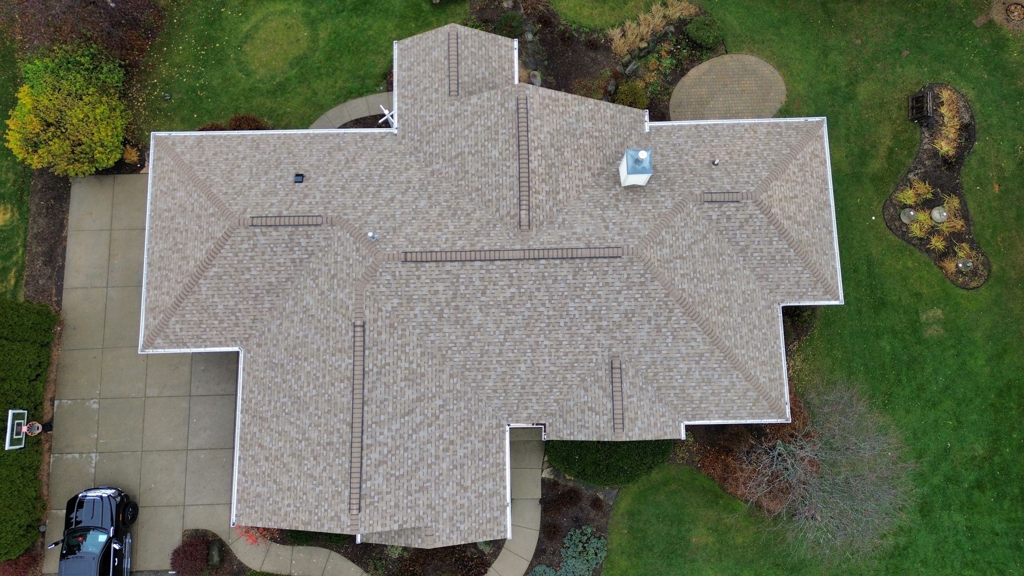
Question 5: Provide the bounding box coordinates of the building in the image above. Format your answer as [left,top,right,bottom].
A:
[138,23,844,548]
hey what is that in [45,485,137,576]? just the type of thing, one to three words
truck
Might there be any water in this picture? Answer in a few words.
No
